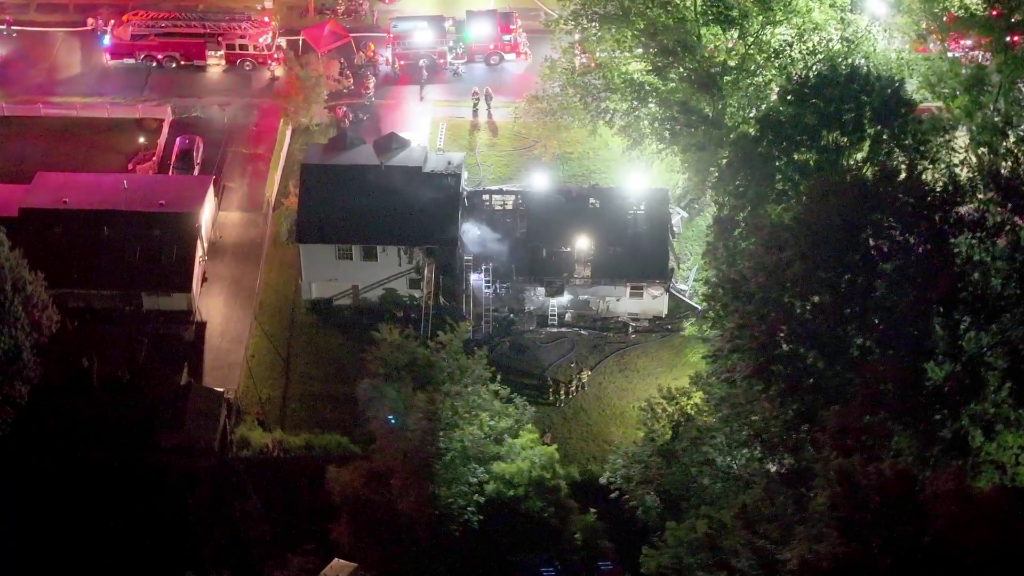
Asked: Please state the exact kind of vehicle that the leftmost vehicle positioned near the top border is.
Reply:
truck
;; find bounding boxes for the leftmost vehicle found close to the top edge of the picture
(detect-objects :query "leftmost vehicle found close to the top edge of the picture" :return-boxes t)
[99,5,282,68]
